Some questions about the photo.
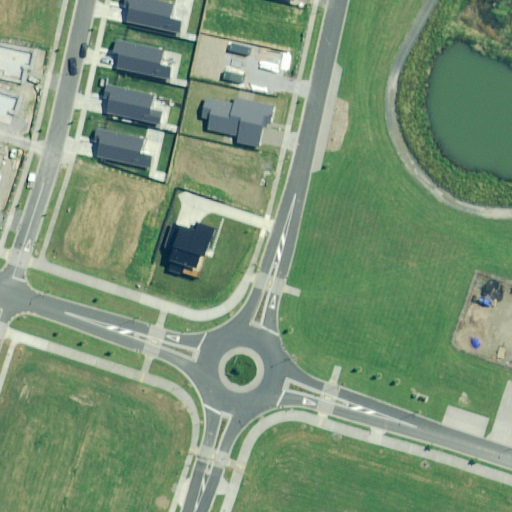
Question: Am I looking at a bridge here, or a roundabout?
roundabout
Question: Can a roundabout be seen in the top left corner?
No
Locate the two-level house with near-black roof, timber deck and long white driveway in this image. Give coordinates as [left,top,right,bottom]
[166,221,214,278]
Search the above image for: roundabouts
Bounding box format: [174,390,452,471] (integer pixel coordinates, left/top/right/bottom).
[132,262,349,474]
